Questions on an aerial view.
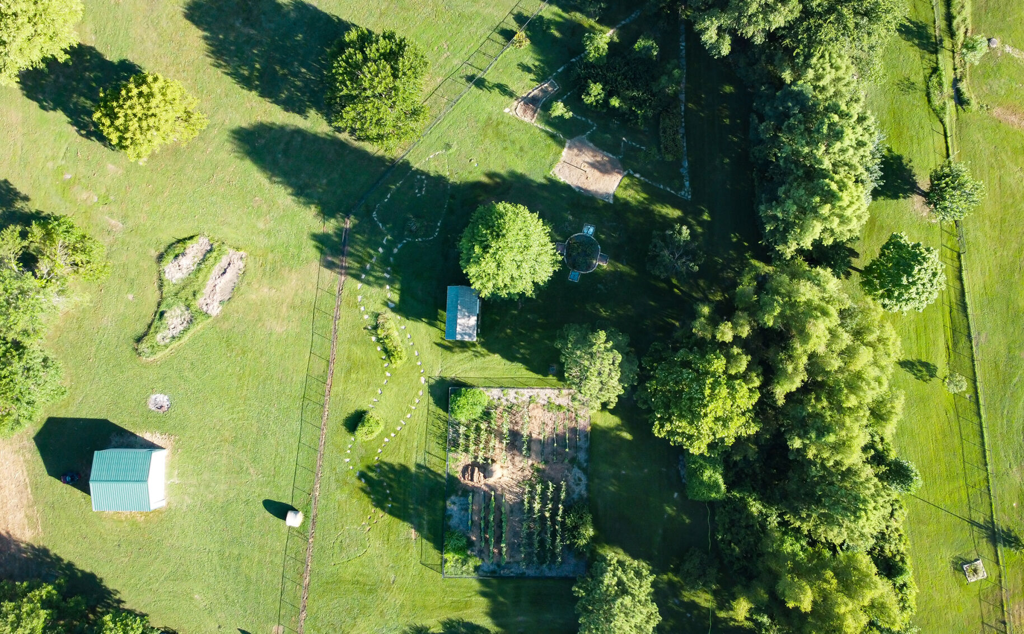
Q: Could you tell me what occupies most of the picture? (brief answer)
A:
grass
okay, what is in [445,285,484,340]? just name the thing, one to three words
shed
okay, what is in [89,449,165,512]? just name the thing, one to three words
shed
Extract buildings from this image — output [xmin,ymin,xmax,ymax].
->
[89,449,165,512]
[445,285,484,340]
